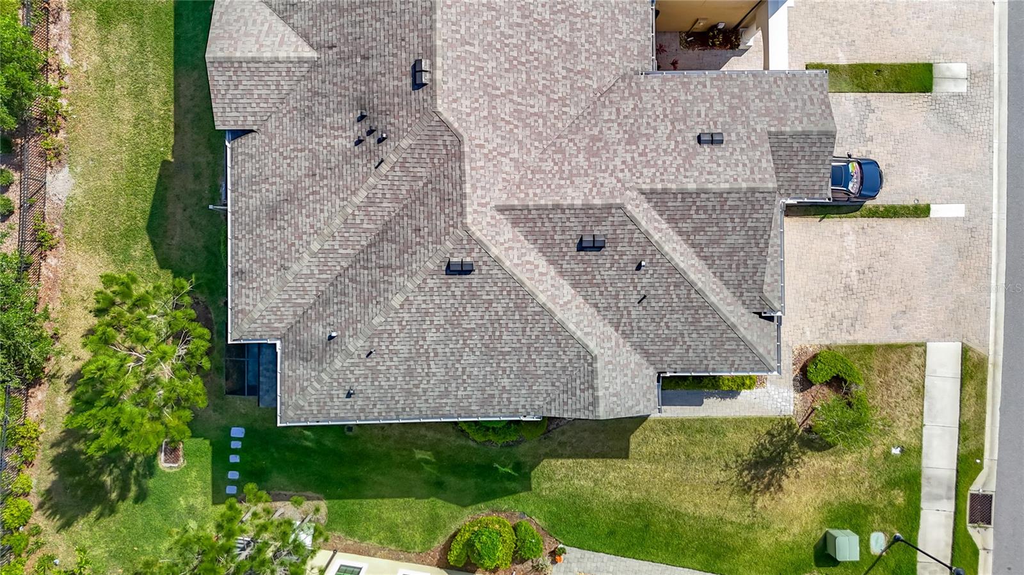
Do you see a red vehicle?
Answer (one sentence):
No, there is no red vehicle in the image.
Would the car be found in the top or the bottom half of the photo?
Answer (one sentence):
The top half of the photo is where the car is.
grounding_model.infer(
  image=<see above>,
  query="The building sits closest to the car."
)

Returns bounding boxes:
[206,0,836,424]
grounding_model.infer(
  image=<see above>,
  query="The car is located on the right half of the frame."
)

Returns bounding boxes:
[830,150,886,205]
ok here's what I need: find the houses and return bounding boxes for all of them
[301,549,475,575]
[206,0,836,424]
